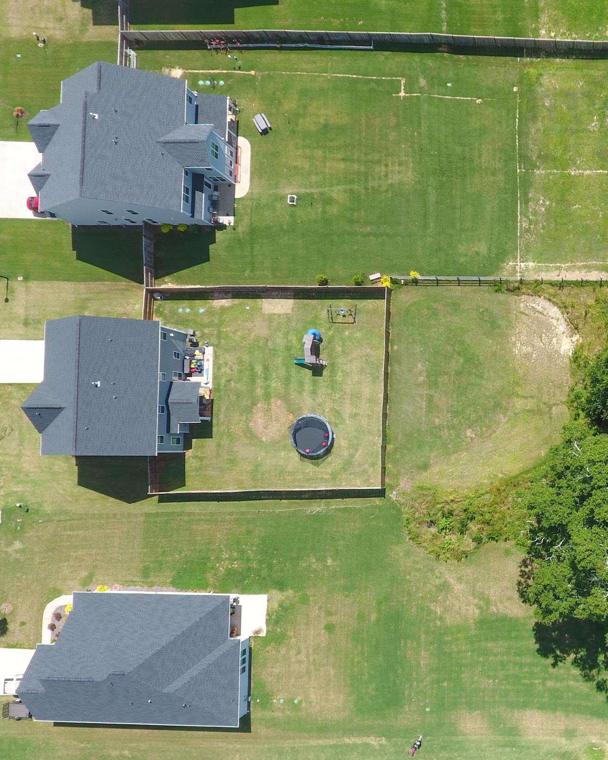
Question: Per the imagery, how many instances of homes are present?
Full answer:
The picture shows 3 homes.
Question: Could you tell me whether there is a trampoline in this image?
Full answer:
Yes, looking at the shot, I can spot a trampoline.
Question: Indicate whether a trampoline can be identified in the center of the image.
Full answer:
Yes, you'll find a trampoline in the center of the image.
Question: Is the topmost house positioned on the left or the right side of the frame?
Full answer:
You can find the topmost house on the left side of the picture.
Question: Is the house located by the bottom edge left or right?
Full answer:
The house located by the bottom edge sits on the left side.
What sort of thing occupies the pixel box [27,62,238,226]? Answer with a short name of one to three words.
house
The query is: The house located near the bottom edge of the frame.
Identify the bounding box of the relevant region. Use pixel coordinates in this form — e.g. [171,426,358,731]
[16,588,249,729]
